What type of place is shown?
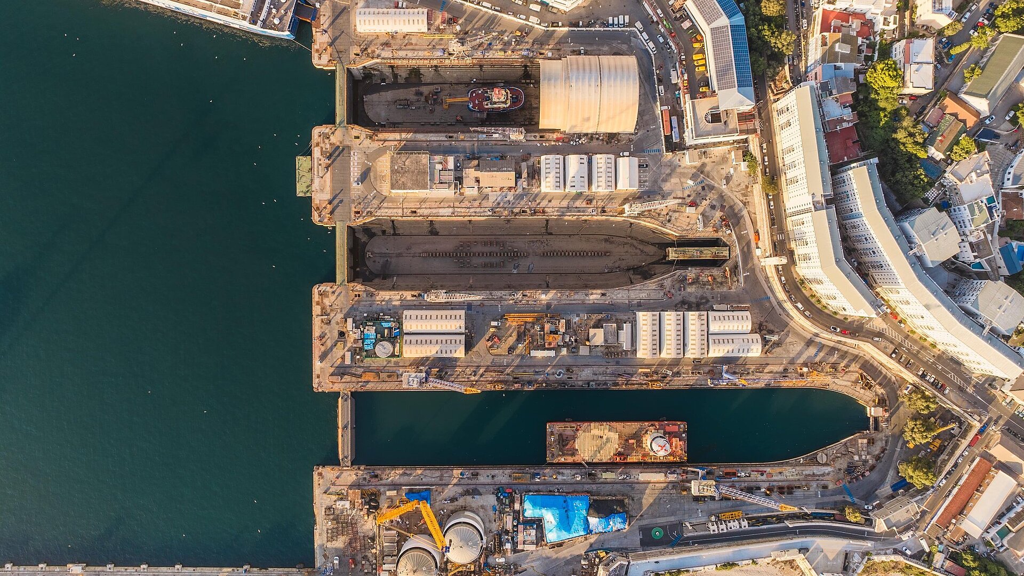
port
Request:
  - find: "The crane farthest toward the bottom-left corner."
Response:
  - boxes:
[369,496,450,556]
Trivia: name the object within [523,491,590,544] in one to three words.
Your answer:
building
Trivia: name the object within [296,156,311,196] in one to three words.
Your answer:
pier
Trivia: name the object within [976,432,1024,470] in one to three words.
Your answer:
house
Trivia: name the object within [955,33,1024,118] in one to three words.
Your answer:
building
